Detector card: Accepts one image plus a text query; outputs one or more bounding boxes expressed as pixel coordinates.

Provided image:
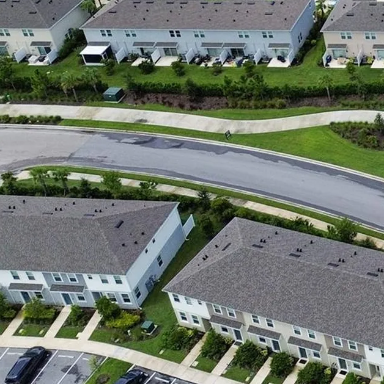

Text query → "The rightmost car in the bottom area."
[111,368,150,384]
